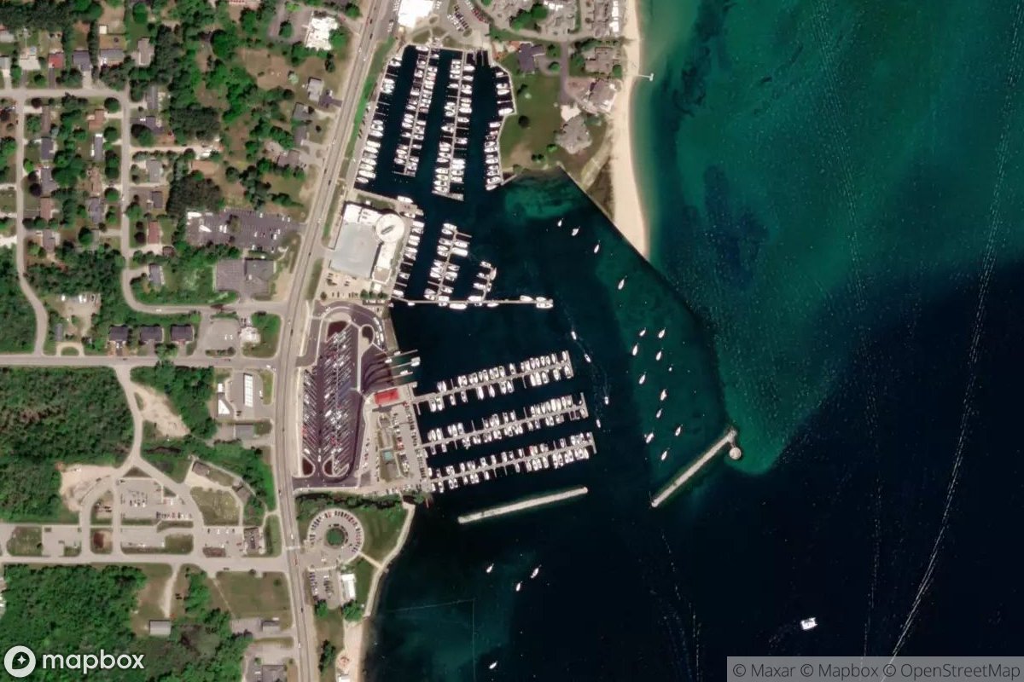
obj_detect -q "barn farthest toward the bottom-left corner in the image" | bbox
[148,621,170,637]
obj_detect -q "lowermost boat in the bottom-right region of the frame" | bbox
[800,618,818,631]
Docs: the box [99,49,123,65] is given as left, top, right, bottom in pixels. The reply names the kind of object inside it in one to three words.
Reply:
house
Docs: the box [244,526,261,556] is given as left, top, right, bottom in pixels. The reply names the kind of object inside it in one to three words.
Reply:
building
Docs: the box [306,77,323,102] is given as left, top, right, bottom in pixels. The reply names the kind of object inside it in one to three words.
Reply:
house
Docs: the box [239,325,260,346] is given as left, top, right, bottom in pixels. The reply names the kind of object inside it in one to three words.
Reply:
building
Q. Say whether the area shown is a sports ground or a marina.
marina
